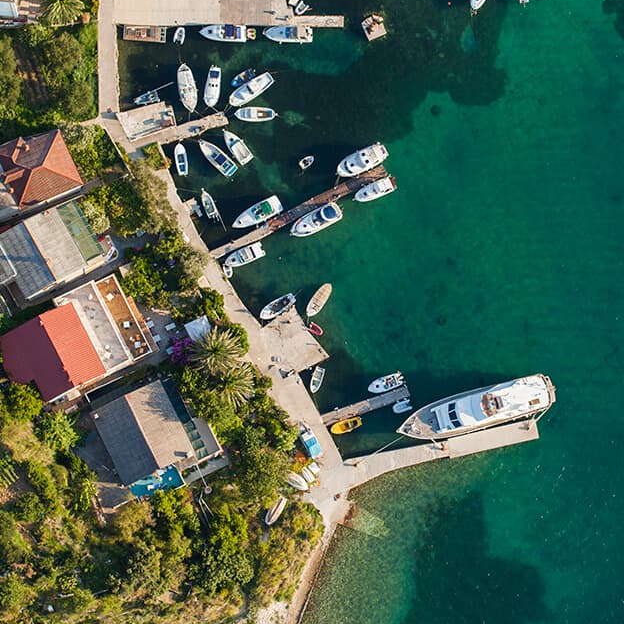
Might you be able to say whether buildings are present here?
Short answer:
Yes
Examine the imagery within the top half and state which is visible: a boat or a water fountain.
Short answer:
boat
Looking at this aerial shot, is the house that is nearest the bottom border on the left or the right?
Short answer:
left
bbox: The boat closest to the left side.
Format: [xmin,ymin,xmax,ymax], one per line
[134,91,171,105]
